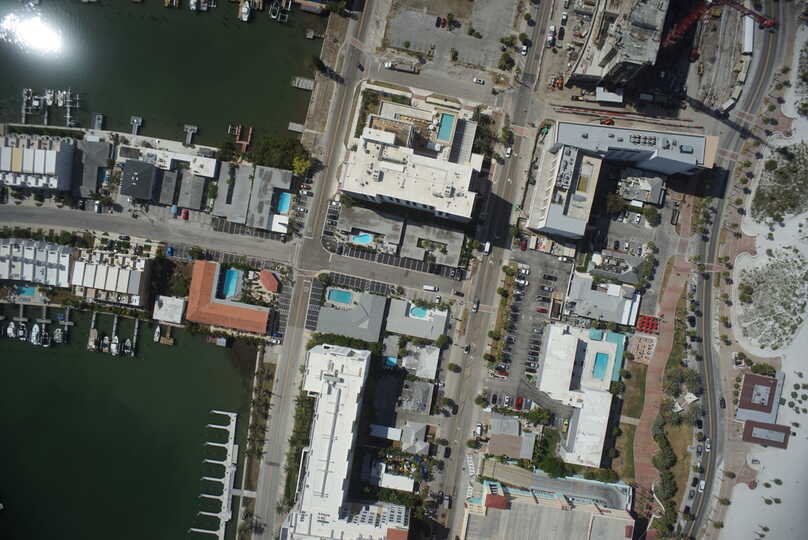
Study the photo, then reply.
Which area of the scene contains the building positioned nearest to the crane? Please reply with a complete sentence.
The building positioned nearest to the crane is located in the top right region of the scene.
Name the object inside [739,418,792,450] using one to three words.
building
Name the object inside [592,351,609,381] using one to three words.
swimming pool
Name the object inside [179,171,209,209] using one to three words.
house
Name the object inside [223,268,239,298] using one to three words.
swimming pool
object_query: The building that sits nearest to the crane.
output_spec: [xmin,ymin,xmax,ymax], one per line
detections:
[600,0,669,88]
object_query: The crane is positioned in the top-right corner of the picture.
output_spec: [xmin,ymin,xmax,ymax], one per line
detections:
[656,0,779,55]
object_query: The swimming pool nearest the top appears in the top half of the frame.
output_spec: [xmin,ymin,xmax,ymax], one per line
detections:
[437,112,456,143]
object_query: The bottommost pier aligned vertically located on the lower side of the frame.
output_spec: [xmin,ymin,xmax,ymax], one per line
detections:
[186,409,239,540]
